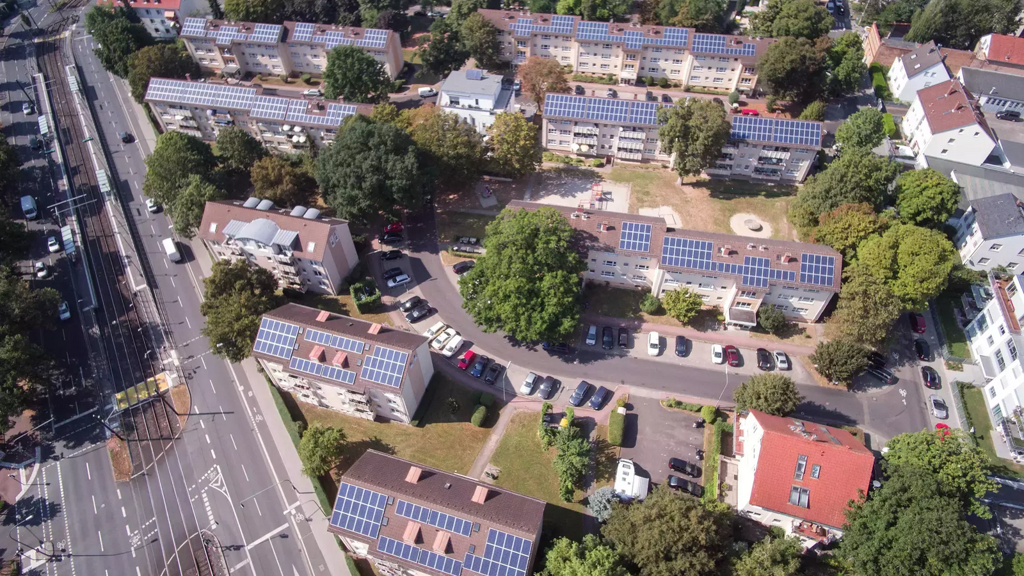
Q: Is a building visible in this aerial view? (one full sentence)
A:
Yes, there's a building down there.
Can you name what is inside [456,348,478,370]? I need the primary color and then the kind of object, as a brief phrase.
red car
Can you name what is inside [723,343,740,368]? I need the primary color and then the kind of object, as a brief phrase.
red car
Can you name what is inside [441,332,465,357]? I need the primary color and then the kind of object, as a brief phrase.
white vehicle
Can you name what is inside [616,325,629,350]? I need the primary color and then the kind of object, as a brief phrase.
black vehicle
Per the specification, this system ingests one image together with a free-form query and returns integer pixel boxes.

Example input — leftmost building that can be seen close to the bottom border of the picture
[329,451,546,576]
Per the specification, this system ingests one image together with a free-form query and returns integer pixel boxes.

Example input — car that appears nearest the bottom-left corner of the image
[54,301,72,320]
